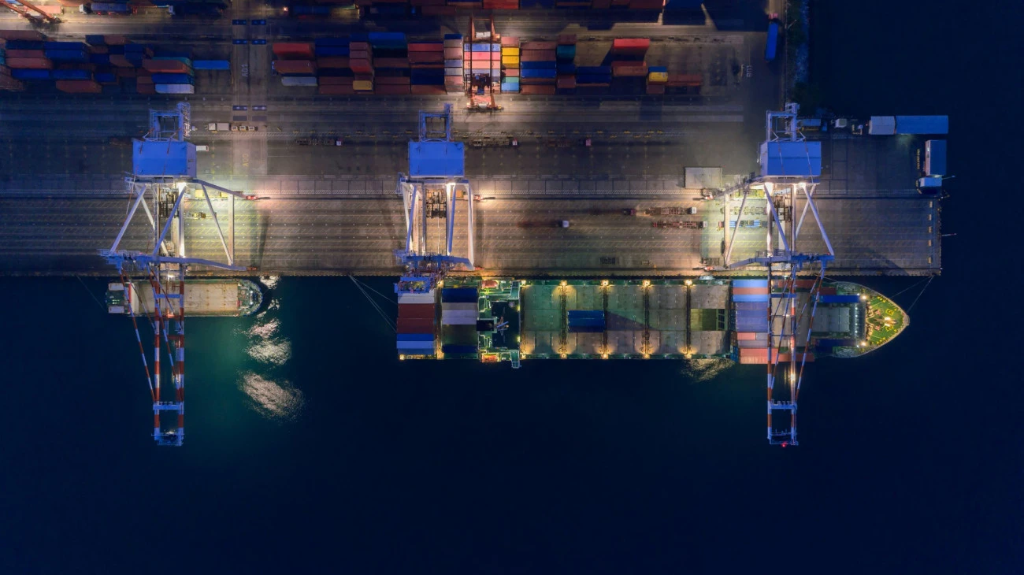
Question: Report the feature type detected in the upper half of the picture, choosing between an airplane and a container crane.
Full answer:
It is a container crane that can be seen in the upper half of the picture.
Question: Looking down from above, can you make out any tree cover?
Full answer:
No, there's no tree cover in this view.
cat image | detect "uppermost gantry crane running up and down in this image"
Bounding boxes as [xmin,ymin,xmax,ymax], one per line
[461,12,504,113]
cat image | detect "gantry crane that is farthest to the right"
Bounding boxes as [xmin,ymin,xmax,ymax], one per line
[703,97,837,446]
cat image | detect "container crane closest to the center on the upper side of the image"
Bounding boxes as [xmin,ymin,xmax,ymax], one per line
[387,97,487,303]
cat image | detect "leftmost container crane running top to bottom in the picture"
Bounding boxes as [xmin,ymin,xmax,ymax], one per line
[102,97,258,445]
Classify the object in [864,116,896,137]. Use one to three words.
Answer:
shed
